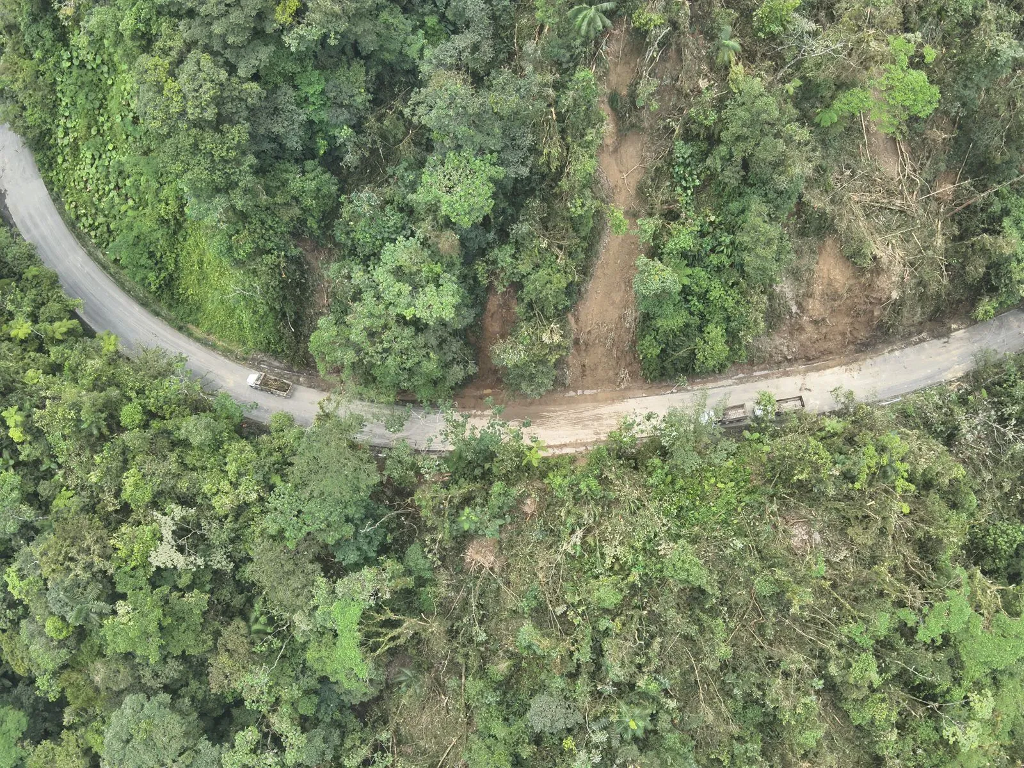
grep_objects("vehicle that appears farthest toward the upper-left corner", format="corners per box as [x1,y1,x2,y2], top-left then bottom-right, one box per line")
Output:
[243,368,293,397]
